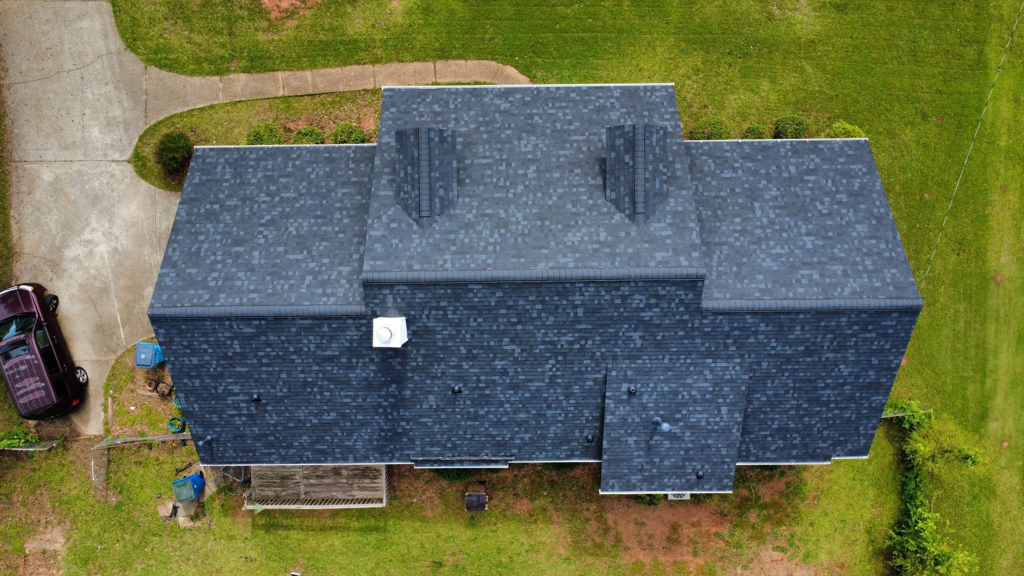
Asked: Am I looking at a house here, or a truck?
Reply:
house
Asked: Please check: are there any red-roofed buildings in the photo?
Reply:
No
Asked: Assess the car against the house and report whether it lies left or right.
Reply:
left of it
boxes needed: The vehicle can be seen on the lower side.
[0,282,91,422]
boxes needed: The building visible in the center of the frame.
[147,80,925,494]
